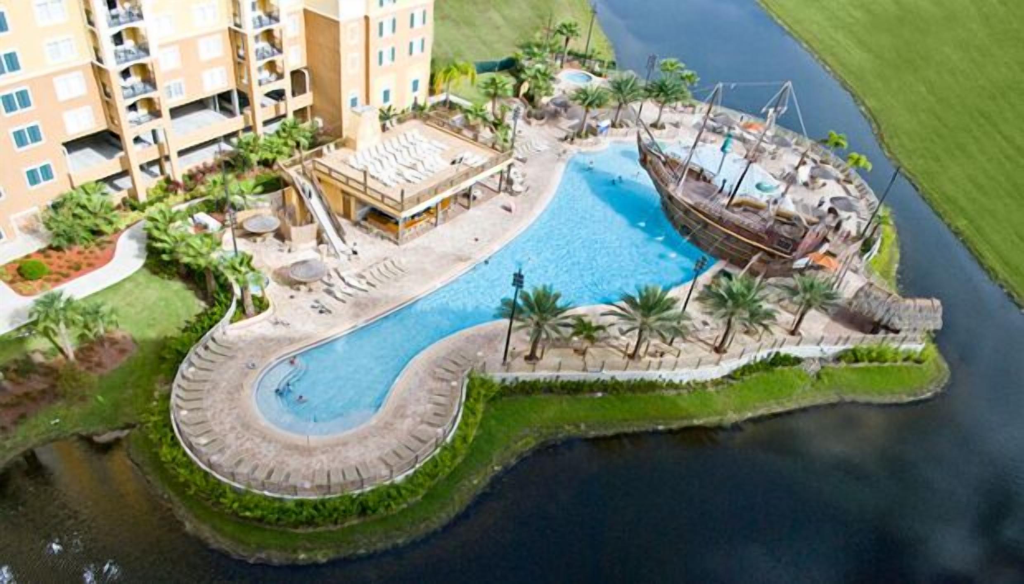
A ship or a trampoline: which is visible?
ship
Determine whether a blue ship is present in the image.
No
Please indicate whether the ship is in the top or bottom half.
top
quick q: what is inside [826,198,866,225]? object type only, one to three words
umbrella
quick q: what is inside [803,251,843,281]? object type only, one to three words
umbrella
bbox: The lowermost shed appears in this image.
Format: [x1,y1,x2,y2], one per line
[839,279,946,346]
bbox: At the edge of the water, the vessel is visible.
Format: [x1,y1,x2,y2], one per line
[636,86,835,280]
